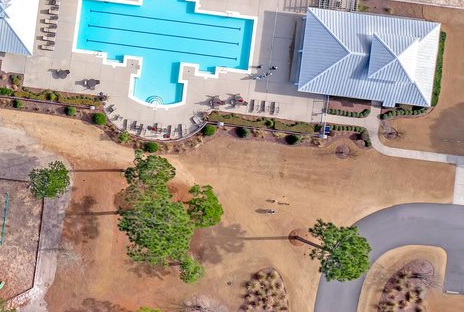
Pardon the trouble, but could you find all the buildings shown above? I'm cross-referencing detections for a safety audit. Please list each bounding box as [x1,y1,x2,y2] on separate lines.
[293,8,441,108]
[0,0,40,56]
